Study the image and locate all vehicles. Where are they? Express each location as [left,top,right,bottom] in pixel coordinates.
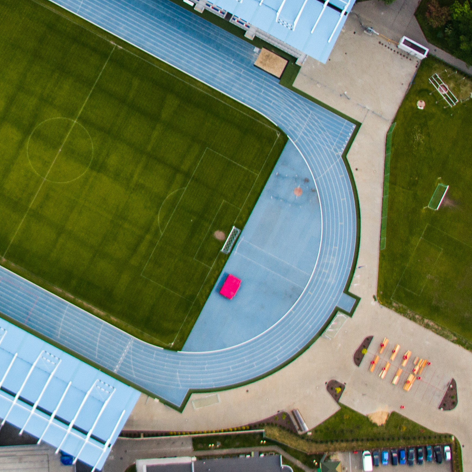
[390,450,398,466]
[425,446,434,462]
[434,447,442,464]
[444,446,451,462]
[398,450,406,465]
[381,451,388,466]
[417,448,425,465]
[408,449,416,466]
[363,450,373,472]
[372,452,380,467]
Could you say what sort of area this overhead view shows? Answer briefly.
sports ground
